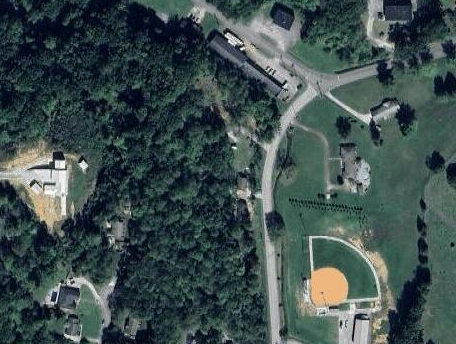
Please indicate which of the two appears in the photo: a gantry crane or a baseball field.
baseball field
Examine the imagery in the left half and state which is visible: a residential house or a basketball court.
residential house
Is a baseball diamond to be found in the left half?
No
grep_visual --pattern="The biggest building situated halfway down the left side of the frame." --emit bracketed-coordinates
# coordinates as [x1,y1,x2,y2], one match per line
[27,159,67,194]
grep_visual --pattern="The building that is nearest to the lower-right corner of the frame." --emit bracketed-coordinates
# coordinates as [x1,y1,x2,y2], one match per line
[354,319,369,344]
